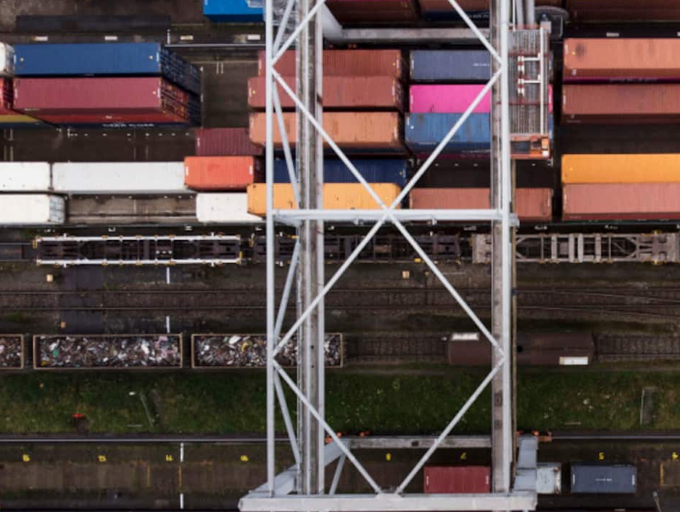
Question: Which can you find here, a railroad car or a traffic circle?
railroad car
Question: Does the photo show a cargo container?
Yes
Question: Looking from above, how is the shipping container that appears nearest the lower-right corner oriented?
from side to side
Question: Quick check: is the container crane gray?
Yes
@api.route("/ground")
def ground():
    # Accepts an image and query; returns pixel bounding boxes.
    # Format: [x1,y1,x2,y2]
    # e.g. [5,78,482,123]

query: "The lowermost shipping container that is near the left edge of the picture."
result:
[0,194,67,224]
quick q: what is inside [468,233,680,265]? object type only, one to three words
rail car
